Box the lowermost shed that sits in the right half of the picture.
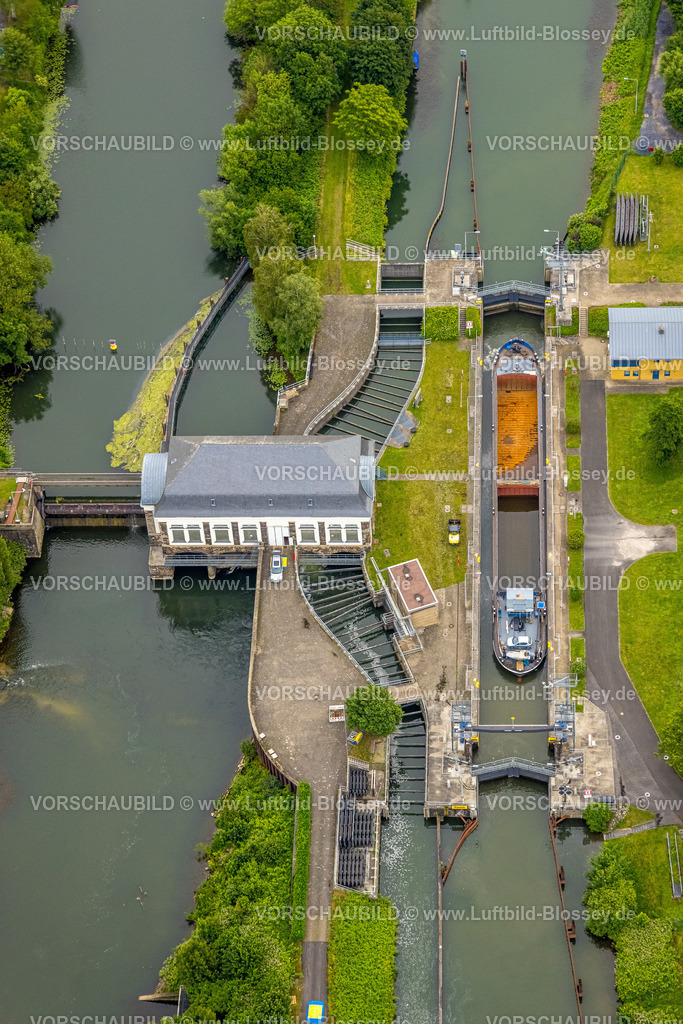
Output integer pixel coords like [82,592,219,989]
[387,558,438,628]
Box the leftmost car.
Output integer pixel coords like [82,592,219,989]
[271,558,283,581]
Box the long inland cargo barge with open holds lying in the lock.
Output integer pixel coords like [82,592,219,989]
[491,338,548,684]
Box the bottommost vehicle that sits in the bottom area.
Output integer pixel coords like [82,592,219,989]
[305,1002,326,1024]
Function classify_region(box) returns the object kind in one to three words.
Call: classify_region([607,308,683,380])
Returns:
house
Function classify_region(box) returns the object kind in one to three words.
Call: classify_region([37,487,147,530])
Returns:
dam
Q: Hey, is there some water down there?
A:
Yes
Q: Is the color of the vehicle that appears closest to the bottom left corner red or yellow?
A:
yellow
